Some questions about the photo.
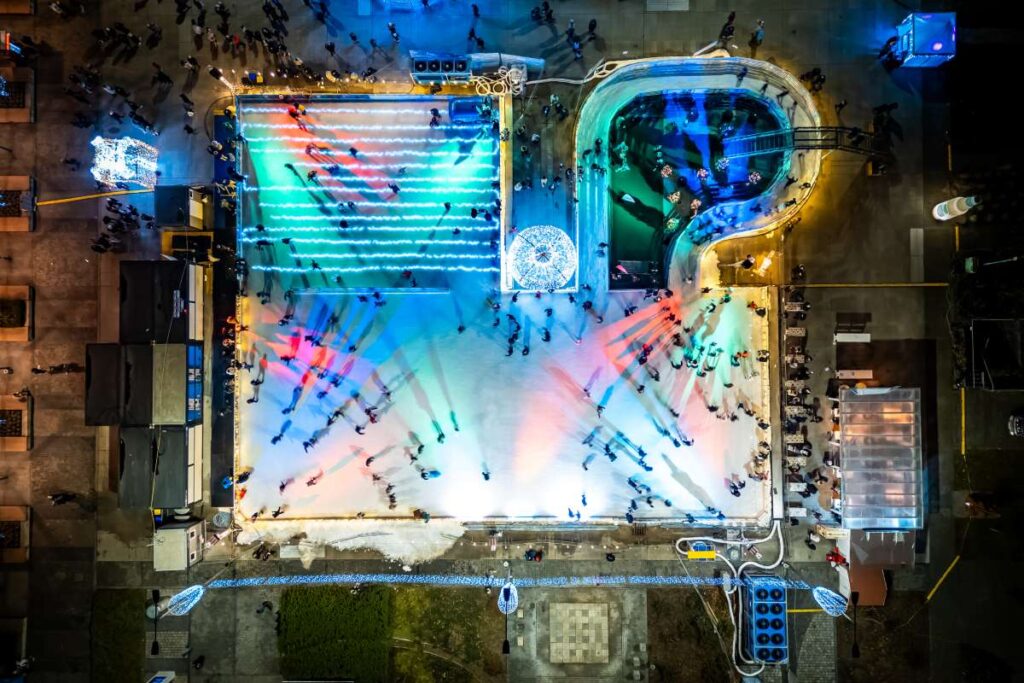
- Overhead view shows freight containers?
Yes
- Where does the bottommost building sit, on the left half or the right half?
left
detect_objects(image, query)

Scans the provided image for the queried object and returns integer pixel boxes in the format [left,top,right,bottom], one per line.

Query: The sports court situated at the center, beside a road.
[241,71,813,517]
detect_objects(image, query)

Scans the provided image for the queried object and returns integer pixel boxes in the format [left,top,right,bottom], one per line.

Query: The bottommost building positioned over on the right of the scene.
[819,384,922,529]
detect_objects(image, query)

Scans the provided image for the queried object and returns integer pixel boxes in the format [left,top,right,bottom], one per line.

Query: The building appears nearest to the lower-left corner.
[147,517,208,571]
